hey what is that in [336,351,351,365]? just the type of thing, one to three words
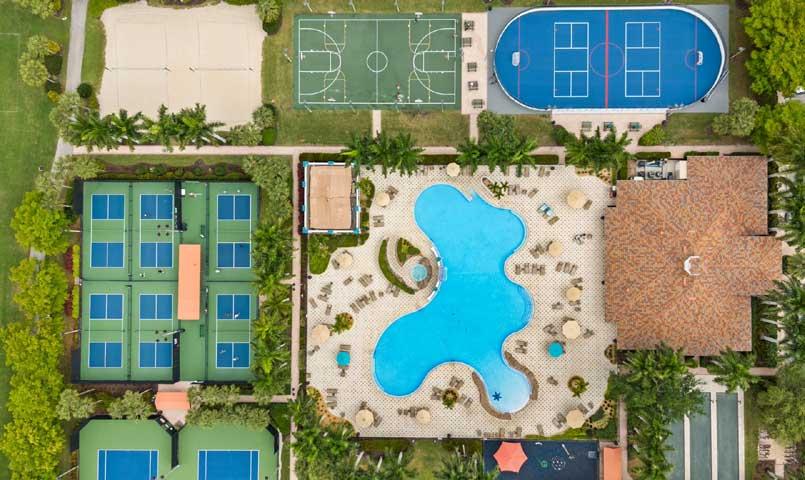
umbrella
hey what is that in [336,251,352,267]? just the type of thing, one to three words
umbrella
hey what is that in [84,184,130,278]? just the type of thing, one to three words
sports court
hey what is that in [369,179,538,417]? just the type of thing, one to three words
swimming pool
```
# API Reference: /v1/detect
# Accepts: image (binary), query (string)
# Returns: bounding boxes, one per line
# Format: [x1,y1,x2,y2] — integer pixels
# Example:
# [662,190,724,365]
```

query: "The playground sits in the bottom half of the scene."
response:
[484,442,599,480]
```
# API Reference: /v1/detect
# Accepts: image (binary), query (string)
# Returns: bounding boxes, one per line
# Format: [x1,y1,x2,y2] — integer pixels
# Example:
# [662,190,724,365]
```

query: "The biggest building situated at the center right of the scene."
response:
[605,155,782,357]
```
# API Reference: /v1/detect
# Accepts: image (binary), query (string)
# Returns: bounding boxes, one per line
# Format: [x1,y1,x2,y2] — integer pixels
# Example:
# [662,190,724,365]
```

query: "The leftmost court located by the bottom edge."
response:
[80,426,171,480]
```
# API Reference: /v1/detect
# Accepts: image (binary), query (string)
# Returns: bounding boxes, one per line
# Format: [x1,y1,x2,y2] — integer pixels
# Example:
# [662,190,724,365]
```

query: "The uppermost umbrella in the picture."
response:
[447,163,460,176]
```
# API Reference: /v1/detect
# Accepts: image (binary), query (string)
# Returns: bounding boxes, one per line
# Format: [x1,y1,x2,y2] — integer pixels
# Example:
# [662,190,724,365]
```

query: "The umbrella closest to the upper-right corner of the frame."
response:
[567,189,586,208]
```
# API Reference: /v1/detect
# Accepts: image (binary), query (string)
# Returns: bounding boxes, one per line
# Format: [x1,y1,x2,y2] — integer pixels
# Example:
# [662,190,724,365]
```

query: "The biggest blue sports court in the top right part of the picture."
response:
[487,4,730,114]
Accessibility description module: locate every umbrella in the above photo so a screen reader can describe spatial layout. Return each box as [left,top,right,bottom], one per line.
[311,325,329,343]
[566,410,584,428]
[336,251,352,267]
[548,343,563,357]
[549,242,562,255]
[567,189,586,208]
[566,287,580,301]
[447,163,460,176]
[336,351,351,365]
[416,408,430,423]
[357,409,374,427]
[375,192,389,207]
[562,321,580,339]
